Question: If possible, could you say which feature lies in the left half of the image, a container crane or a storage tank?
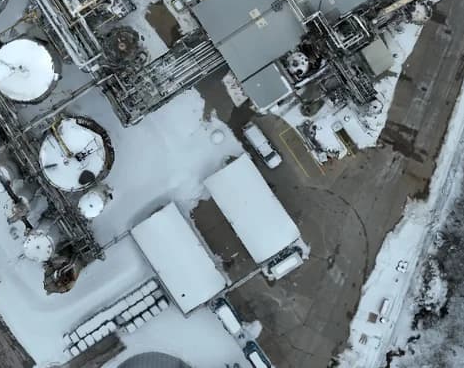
storage tank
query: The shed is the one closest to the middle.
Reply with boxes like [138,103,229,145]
[203,151,300,265]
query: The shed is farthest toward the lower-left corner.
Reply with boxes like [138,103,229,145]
[131,200,227,314]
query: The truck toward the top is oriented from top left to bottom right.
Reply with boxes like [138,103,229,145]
[239,119,284,171]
